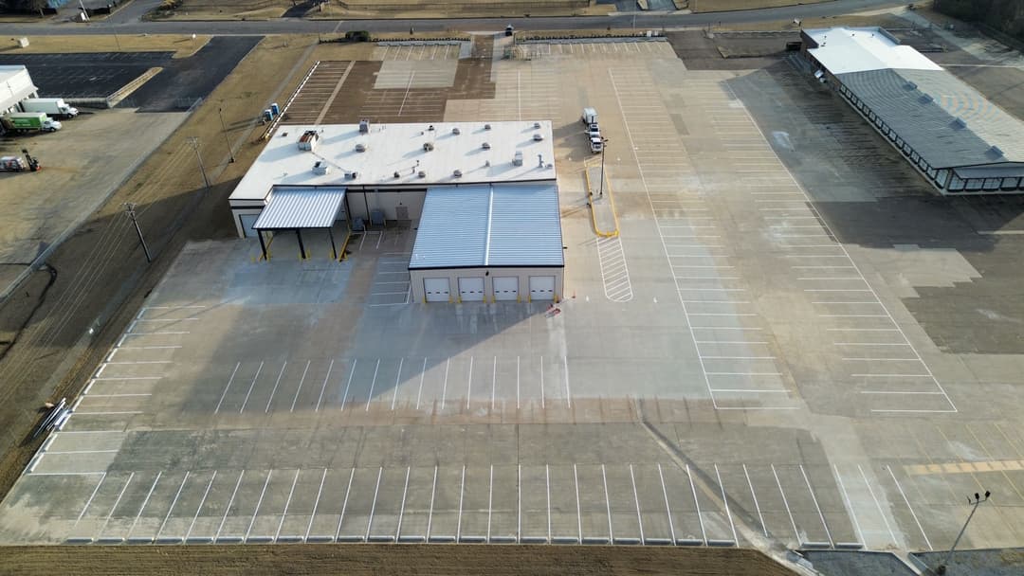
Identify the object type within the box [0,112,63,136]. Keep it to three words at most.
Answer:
truck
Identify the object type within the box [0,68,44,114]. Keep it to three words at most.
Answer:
building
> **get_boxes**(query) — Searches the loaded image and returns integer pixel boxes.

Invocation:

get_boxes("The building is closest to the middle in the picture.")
[406,183,567,303]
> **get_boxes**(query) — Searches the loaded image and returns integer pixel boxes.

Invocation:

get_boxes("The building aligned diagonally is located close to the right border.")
[796,27,1024,194]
